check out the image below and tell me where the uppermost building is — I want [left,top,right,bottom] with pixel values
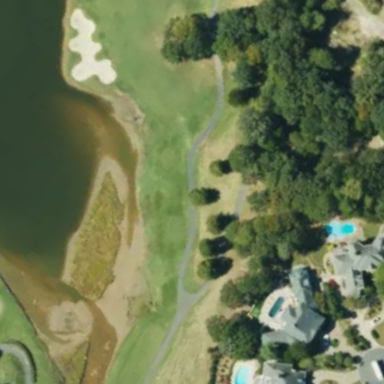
[329,222,384,302]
